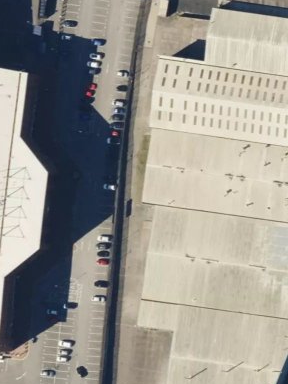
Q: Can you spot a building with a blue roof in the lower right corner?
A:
No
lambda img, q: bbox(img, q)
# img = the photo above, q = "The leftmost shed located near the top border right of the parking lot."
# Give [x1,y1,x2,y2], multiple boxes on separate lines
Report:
[145,0,170,47]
